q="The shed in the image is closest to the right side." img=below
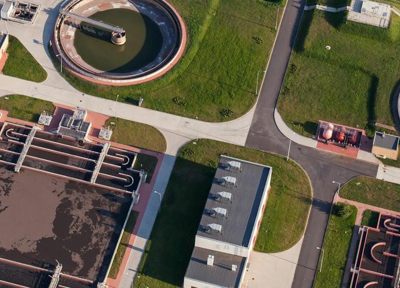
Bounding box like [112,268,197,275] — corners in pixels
[371,132,399,159]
